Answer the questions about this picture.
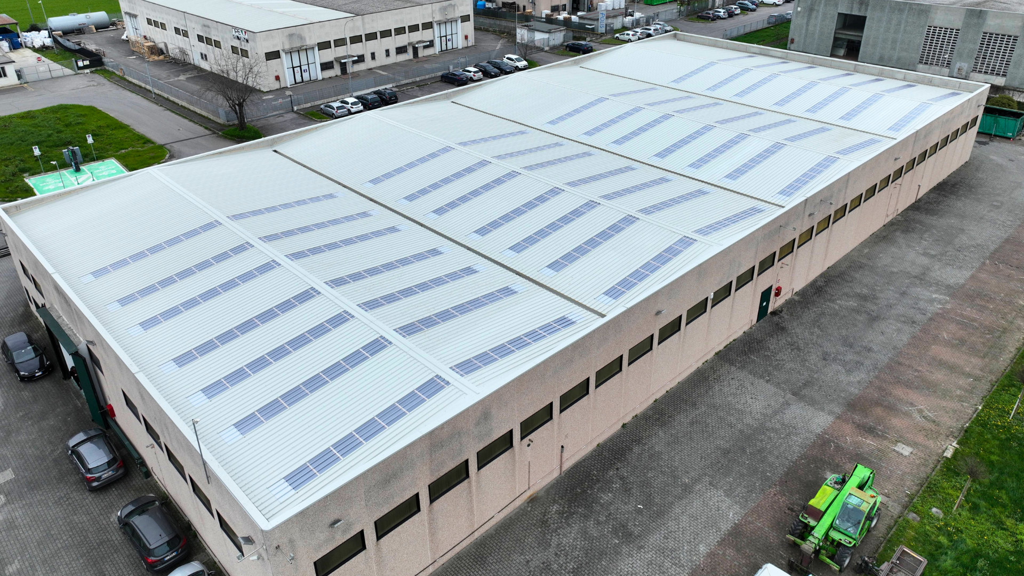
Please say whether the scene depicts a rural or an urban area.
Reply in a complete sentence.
The area shown here is urban.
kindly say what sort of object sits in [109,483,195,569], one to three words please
car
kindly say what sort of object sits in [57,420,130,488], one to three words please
car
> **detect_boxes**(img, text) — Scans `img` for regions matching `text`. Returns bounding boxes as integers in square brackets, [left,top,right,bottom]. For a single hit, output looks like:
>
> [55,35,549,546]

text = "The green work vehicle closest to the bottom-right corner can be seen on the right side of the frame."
[776,457,889,576]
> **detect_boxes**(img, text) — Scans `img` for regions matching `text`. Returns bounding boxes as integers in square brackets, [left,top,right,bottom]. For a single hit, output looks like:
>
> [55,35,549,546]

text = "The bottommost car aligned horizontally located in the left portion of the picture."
[162,549,227,576]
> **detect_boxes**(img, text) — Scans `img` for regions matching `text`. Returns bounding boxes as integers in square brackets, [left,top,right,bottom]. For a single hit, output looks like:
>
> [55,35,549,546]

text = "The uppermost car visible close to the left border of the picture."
[0,322,54,376]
